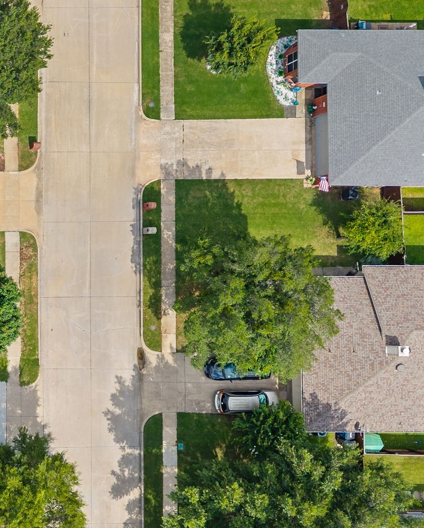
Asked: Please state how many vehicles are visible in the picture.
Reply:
two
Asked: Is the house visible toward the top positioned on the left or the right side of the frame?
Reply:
right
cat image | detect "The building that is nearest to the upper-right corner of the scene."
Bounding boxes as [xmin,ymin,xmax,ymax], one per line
[283,28,424,188]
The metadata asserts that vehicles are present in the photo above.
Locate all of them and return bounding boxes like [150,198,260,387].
[213,388,277,417]
[202,358,270,385]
